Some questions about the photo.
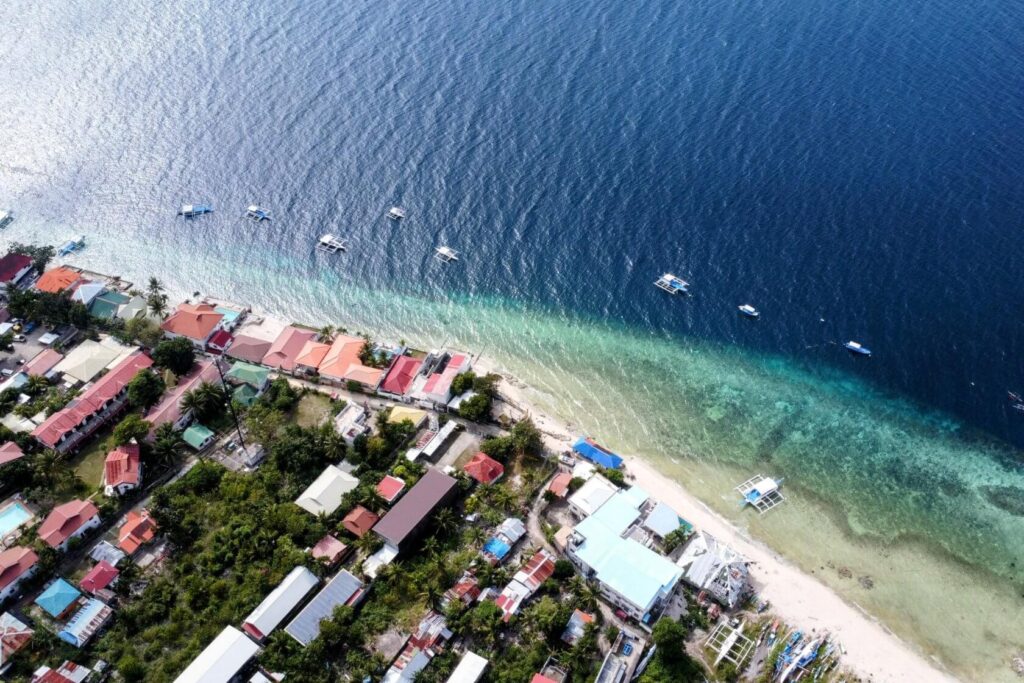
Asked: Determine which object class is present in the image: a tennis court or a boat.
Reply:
boat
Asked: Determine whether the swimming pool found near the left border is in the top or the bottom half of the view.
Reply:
bottom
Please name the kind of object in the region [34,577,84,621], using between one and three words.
house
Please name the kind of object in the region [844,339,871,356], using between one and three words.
boat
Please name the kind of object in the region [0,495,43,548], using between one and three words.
swimming pool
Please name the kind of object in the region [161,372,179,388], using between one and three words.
gazebo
